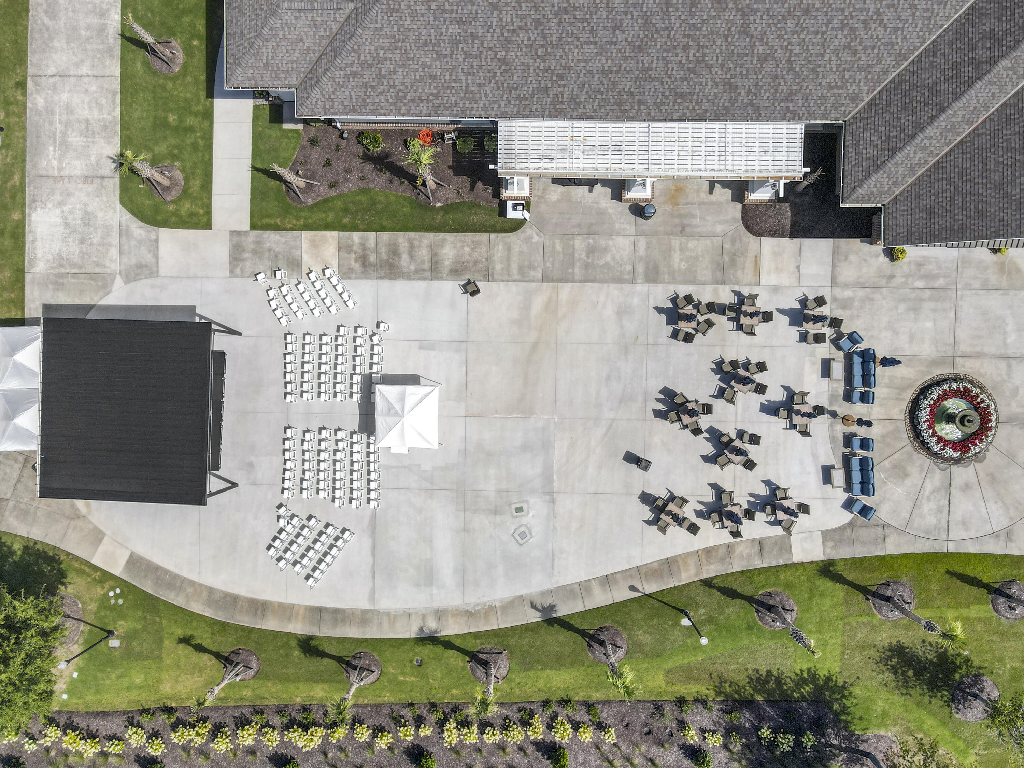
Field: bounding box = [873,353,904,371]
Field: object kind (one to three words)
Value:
umbrella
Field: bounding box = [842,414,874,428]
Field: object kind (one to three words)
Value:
umbrella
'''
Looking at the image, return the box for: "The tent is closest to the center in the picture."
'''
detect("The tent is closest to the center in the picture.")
[375,384,444,448]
